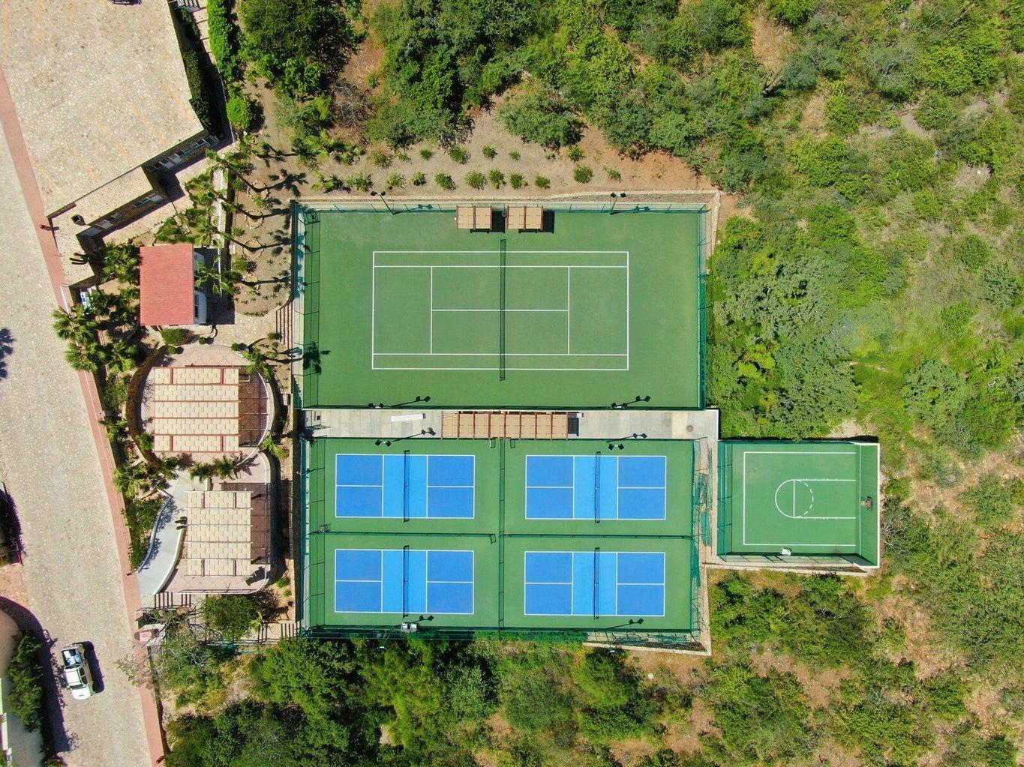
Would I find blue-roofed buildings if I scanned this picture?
No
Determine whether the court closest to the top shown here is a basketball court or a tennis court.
tennis court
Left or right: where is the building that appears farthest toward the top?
left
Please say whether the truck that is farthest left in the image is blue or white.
white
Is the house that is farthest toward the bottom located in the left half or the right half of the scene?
left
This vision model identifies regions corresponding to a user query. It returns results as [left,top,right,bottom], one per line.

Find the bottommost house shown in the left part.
[139,245,213,333]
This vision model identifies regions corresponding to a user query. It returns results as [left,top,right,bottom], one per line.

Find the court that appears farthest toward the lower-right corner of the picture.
[715,441,858,559]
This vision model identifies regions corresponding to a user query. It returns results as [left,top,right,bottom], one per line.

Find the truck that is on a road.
[60,638,95,701]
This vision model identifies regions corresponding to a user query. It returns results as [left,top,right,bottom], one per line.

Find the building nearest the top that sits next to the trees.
[0,0,217,217]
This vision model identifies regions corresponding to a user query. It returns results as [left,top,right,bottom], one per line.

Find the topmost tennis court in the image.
[302,211,704,409]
